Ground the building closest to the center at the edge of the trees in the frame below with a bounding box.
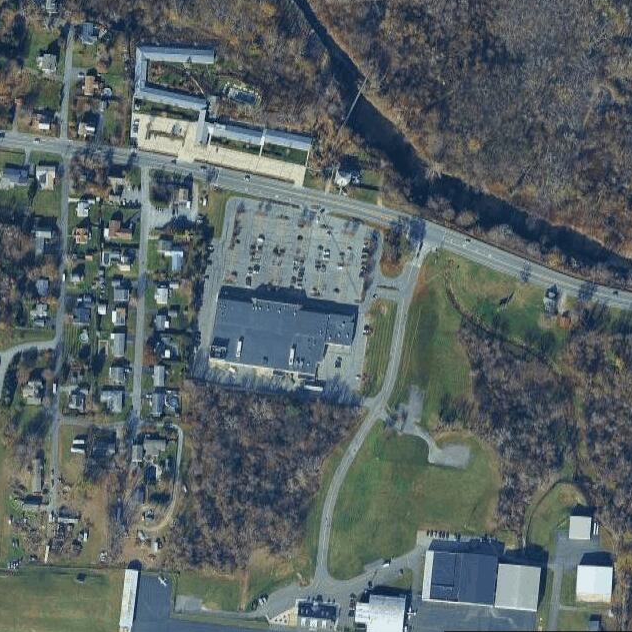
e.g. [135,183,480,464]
[210,298,359,380]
